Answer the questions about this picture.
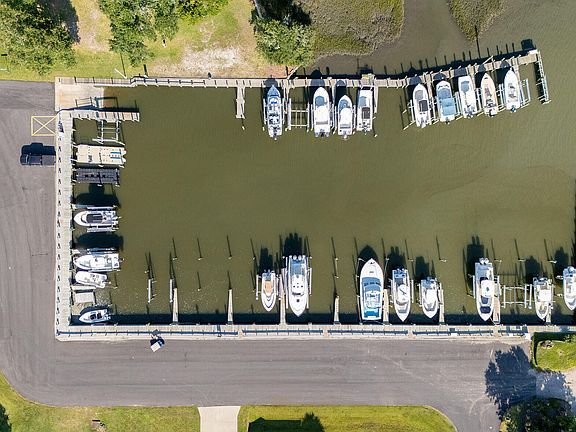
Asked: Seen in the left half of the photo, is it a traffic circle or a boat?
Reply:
boat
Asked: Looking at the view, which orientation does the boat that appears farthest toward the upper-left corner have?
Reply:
horizontally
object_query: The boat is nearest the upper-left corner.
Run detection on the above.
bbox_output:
[77,145,128,165]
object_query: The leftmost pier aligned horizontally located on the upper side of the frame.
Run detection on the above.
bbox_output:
[58,110,142,124]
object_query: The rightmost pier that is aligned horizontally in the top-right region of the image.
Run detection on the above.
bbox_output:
[396,47,541,93]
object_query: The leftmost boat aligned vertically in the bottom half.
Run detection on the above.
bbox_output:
[261,268,276,312]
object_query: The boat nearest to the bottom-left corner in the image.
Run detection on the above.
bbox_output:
[79,308,115,324]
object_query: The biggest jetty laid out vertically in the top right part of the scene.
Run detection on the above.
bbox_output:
[530,55,558,106]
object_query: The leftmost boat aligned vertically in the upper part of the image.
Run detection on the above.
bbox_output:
[266,85,282,141]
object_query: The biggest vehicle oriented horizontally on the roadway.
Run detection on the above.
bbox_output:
[20,152,56,168]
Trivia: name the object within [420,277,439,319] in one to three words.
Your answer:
boat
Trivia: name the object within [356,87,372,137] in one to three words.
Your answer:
boat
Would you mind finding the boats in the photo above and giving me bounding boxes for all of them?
[480,73,498,118]
[77,145,128,165]
[266,85,282,141]
[79,308,115,324]
[71,253,125,270]
[288,253,308,317]
[359,258,383,322]
[392,266,411,321]
[503,68,521,113]
[532,275,554,320]
[474,260,494,321]
[72,210,123,226]
[413,82,431,130]
[338,94,354,142]
[312,86,330,141]
[420,277,439,319]
[356,87,372,137]
[261,268,276,312]
[458,74,478,120]
[434,79,455,126]
[560,264,576,310]
[75,272,112,289]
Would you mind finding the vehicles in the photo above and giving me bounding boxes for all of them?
[20,152,56,168]
[150,336,167,351]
